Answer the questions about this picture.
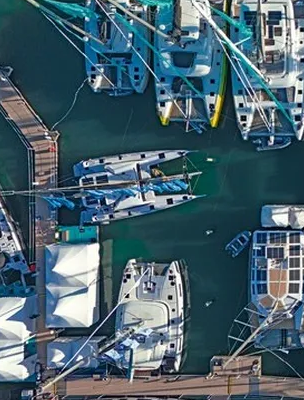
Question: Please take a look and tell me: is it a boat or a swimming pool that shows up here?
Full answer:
Looking from above, you can make out a boat.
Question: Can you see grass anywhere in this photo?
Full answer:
No, no grass is visible.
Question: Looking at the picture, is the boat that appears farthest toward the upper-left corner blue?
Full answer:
Yes, the boat that appears farthest toward the upper-left corner is blue.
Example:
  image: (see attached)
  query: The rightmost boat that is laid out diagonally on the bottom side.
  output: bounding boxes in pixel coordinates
[220,229,251,261]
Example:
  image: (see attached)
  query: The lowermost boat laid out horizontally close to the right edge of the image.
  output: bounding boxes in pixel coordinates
[253,135,292,151]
